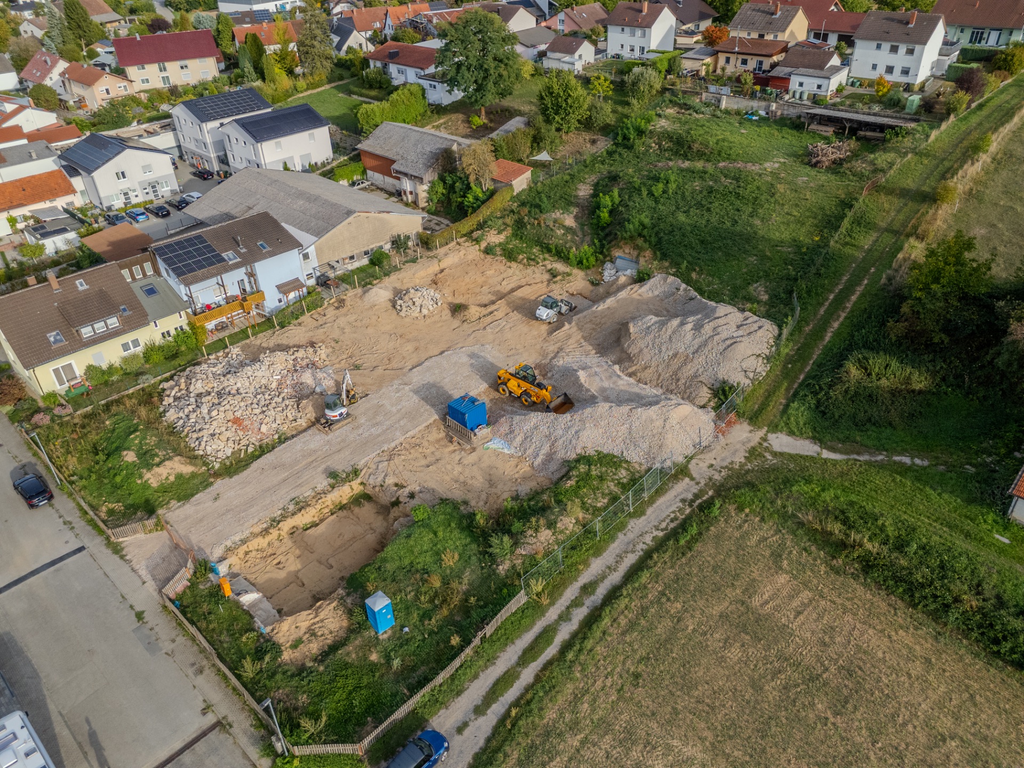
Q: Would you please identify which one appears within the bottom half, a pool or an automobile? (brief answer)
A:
automobile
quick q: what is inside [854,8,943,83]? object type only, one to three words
house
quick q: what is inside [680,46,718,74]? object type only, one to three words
shed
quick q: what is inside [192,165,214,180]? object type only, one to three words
car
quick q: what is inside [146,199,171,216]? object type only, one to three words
car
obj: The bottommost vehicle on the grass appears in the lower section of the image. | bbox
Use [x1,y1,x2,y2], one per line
[387,733,453,768]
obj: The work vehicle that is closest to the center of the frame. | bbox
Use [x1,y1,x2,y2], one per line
[493,362,571,414]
